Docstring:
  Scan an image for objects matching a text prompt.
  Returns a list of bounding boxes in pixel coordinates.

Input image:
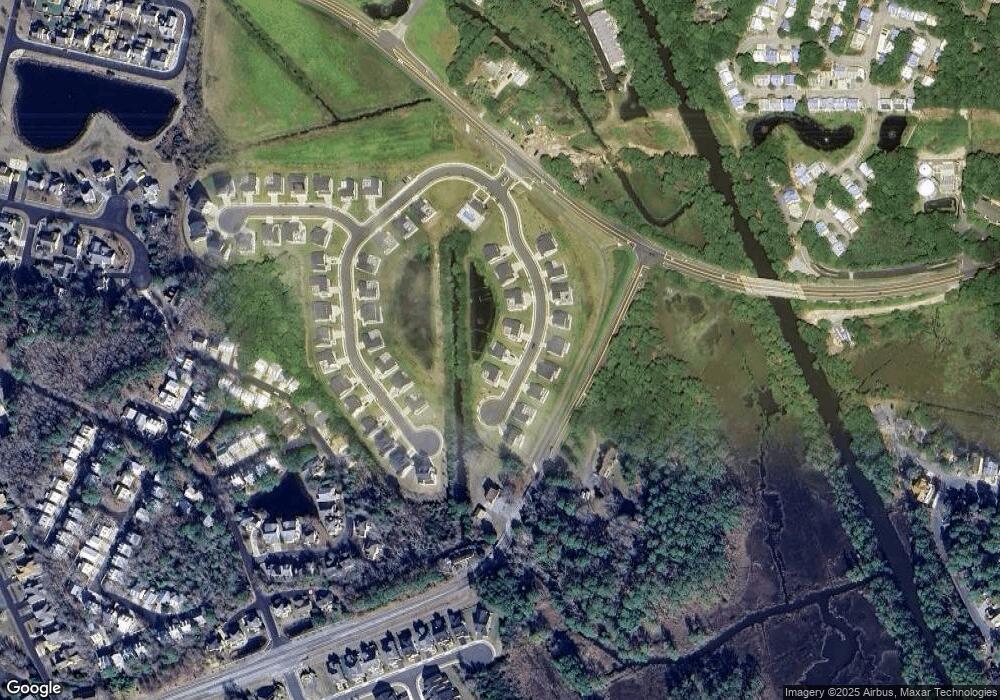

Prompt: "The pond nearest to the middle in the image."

[468,261,495,361]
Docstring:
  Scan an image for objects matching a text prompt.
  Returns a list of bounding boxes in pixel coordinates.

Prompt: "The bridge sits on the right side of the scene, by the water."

[740,276,807,300]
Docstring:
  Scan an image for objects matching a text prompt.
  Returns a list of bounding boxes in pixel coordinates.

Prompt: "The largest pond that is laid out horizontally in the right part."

[747,112,854,150]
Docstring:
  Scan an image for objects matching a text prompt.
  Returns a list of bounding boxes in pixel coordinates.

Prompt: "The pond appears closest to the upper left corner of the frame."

[14,59,180,153]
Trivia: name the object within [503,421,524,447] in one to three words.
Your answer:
house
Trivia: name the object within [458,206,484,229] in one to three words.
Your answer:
swimming pool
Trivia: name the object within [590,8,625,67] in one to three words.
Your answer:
building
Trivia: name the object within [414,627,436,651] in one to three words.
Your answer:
house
